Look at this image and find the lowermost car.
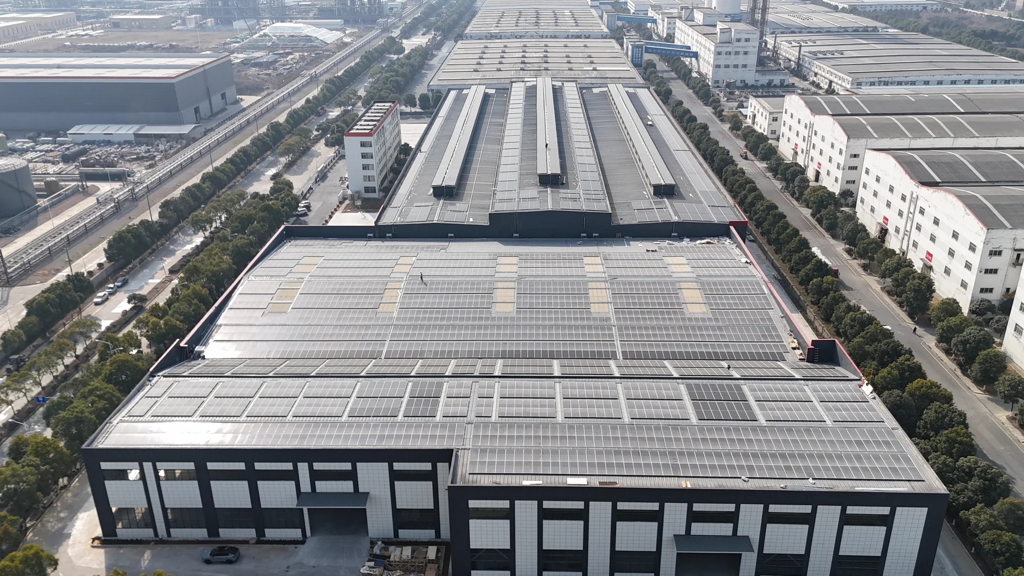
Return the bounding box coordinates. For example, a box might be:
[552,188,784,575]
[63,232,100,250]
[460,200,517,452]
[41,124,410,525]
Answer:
[200,548,239,567]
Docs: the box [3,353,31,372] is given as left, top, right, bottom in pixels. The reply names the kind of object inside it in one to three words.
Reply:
work vehicle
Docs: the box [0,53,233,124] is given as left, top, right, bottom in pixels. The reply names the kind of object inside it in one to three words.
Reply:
building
